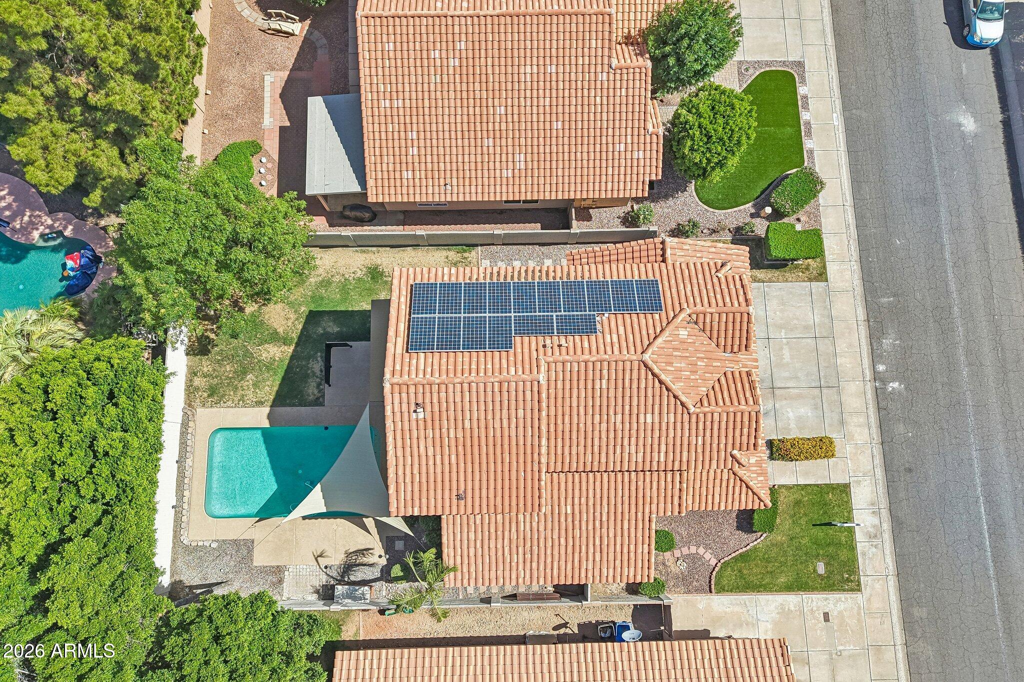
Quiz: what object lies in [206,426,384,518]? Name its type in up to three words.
swimming pool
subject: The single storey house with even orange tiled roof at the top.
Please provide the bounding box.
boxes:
[305,0,687,211]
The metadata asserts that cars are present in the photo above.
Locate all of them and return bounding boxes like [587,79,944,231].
[956,0,1004,48]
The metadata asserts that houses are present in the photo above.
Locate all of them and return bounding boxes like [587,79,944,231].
[305,0,687,211]
[330,636,797,682]
[371,236,774,587]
